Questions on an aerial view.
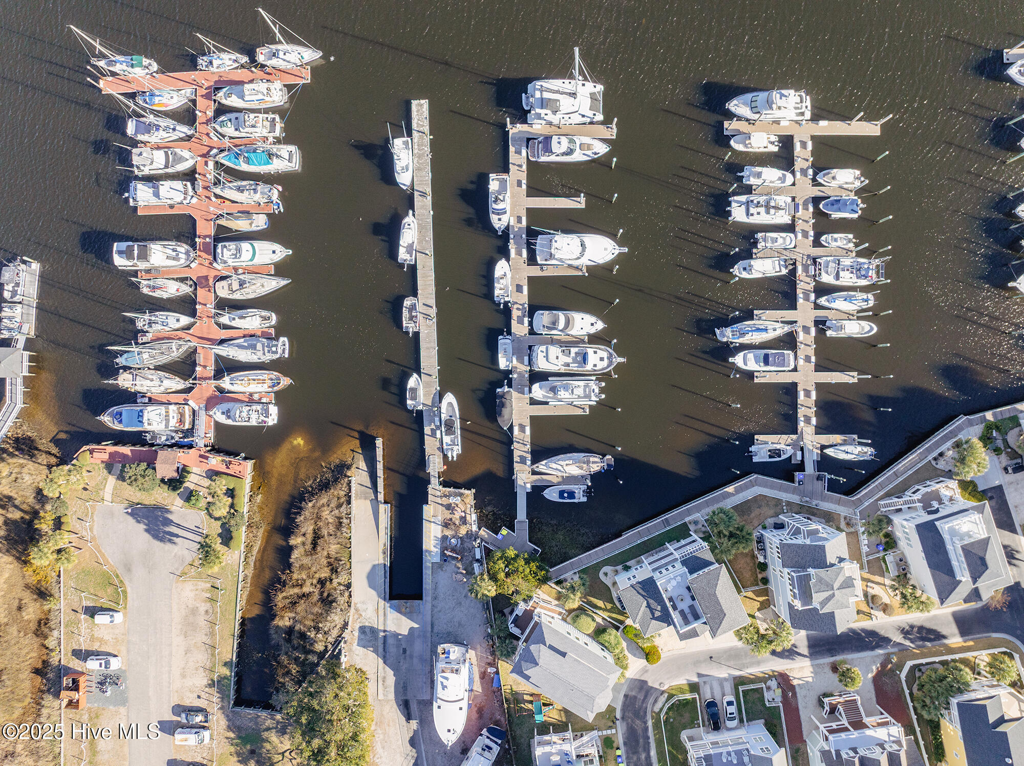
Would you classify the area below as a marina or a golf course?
marina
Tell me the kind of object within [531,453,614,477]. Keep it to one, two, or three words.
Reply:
boat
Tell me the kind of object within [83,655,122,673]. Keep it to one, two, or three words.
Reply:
car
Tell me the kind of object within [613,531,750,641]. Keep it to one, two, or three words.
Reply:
house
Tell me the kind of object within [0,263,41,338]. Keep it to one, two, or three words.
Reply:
pier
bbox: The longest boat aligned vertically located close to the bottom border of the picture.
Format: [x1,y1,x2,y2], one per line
[432,638,471,752]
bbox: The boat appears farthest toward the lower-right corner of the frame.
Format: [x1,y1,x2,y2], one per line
[821,444,883,462]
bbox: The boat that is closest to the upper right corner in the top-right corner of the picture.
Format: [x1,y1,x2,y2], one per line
[1000,65,1024,88]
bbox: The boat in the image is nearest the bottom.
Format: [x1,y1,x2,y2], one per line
[464,723,508,766]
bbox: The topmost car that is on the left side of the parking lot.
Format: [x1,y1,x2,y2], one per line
[91,610,123,627]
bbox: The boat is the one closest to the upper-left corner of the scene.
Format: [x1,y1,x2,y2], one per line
[88,26,161,74]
